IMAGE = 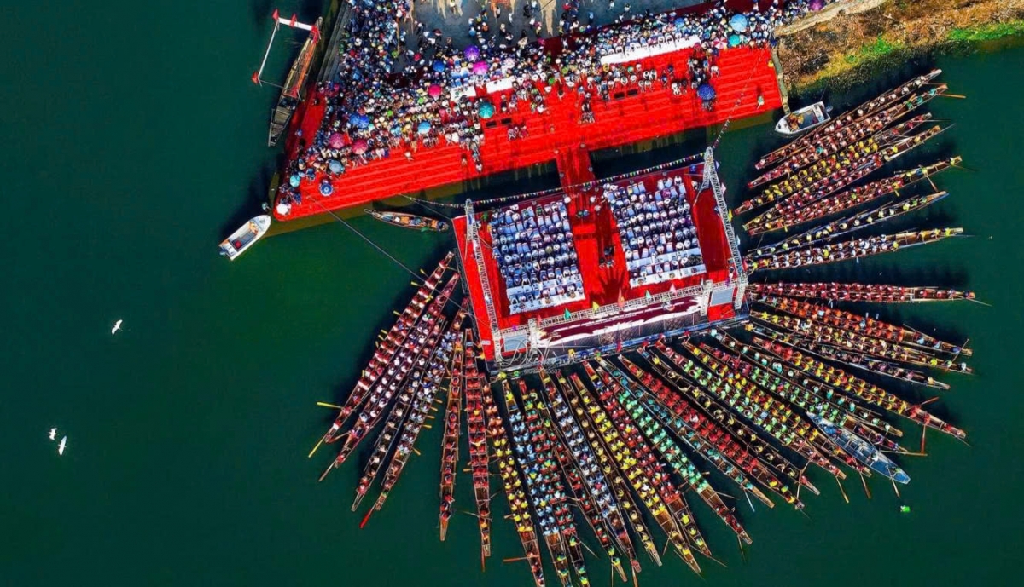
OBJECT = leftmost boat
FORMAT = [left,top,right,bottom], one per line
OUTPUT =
[219,217,269,263]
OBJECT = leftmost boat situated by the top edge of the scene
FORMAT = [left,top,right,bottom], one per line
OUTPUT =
[253,8,322,148]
